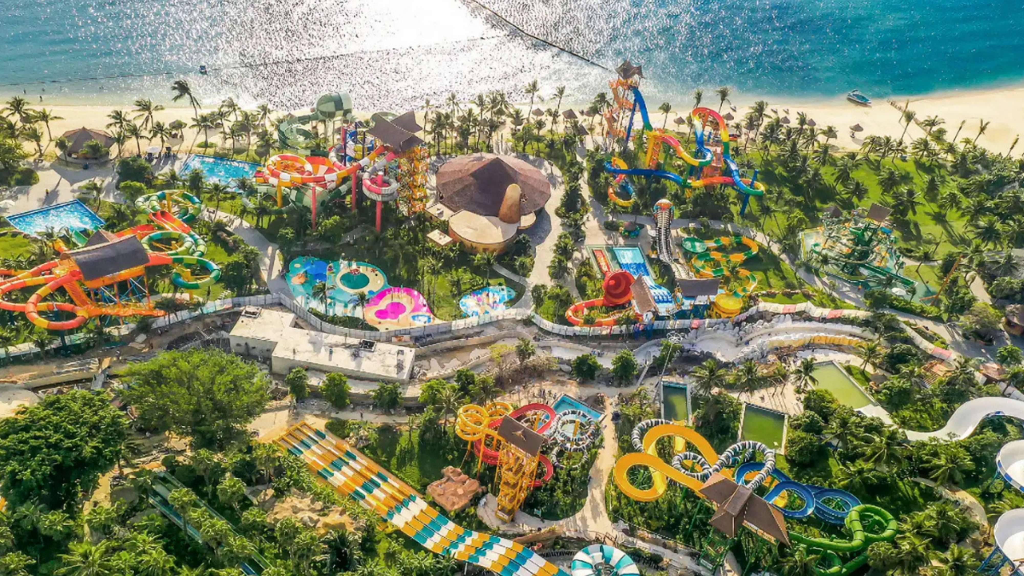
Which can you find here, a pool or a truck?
pool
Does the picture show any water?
Yes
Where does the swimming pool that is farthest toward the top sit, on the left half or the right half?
left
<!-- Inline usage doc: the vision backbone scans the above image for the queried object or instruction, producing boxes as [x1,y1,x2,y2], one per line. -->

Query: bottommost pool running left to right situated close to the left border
[3,196,109,239]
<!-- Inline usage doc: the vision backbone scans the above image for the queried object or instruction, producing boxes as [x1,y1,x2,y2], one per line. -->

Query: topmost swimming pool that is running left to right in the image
[176,152,265,194]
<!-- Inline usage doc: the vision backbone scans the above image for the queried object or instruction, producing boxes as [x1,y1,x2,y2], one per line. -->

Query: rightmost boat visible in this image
[845,90,873,105]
